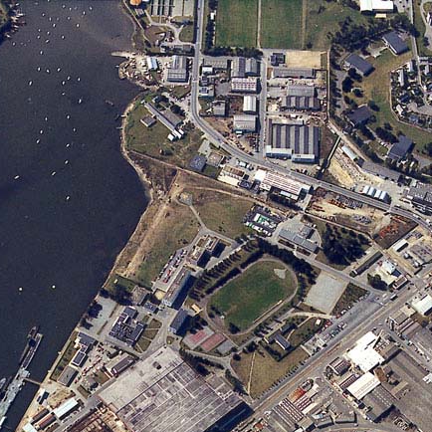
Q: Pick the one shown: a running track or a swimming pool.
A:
running track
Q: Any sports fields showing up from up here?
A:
Yes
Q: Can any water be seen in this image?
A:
Yes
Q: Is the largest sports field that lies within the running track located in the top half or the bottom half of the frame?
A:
bottom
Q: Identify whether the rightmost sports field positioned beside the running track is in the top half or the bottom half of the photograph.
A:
bottom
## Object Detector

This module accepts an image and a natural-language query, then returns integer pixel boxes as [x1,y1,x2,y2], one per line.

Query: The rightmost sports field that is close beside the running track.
[262,262,326,319]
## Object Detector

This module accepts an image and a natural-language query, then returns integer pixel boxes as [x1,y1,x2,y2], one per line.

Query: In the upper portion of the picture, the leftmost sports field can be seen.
[215,0,257,47]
